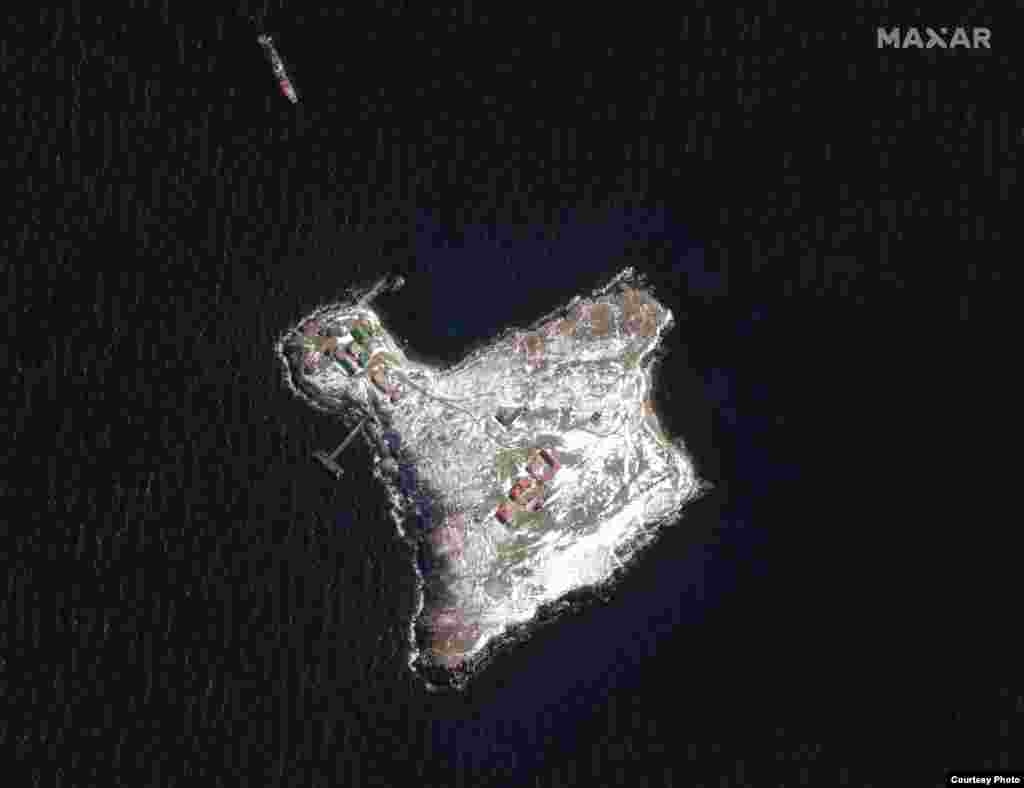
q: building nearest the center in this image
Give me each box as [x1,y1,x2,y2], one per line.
[490,404,522,430]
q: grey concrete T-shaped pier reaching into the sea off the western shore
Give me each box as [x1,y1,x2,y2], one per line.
[312,417,367,474]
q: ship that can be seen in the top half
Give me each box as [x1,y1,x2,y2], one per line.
[269,45,299,104]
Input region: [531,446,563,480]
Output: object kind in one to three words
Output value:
building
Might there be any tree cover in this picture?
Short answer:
No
